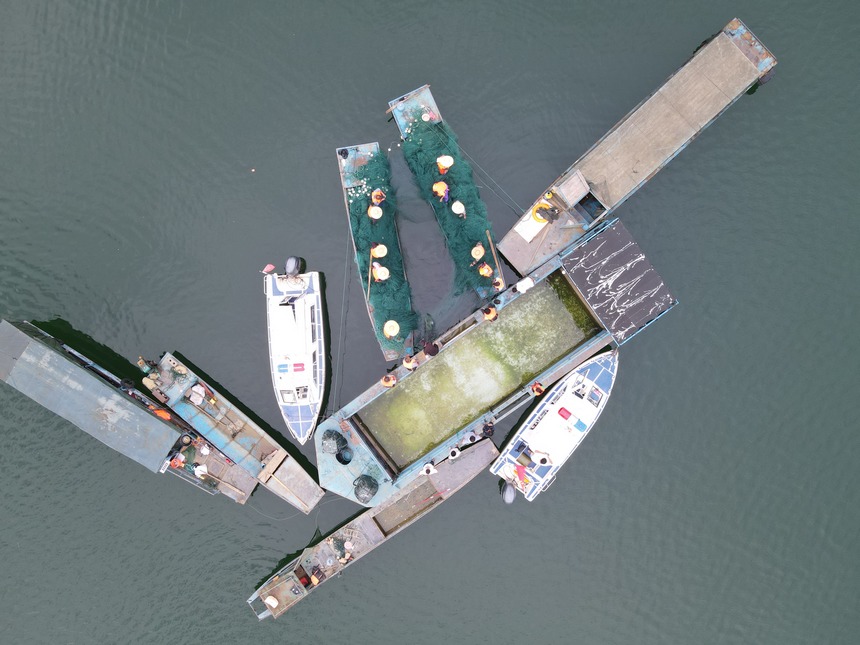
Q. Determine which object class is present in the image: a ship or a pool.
ship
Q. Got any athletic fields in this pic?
No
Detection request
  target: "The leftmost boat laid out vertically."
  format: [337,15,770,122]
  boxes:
[265,255,327,446]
